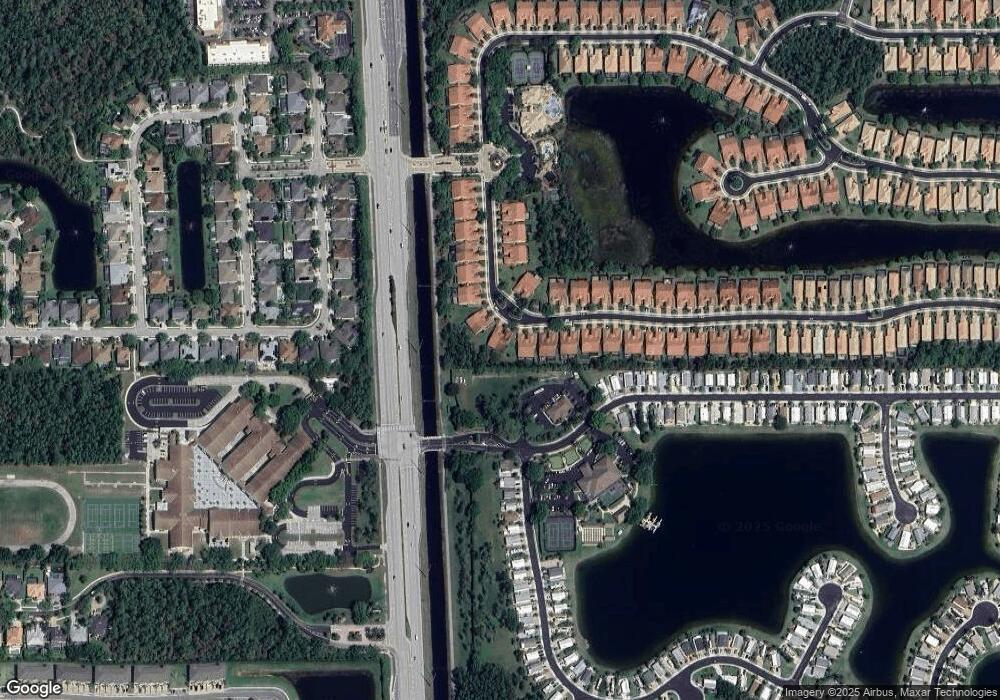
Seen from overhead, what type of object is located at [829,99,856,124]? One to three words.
house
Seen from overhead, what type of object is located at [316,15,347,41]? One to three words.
building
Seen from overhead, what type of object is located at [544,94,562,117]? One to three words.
swimming pool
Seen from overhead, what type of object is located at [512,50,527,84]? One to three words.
tennis court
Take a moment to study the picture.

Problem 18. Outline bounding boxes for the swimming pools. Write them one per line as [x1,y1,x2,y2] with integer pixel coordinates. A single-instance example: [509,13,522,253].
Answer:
[544,94,562,117]
[544,144,553,160]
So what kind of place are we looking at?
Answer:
residential area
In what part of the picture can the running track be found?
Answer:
bottom left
